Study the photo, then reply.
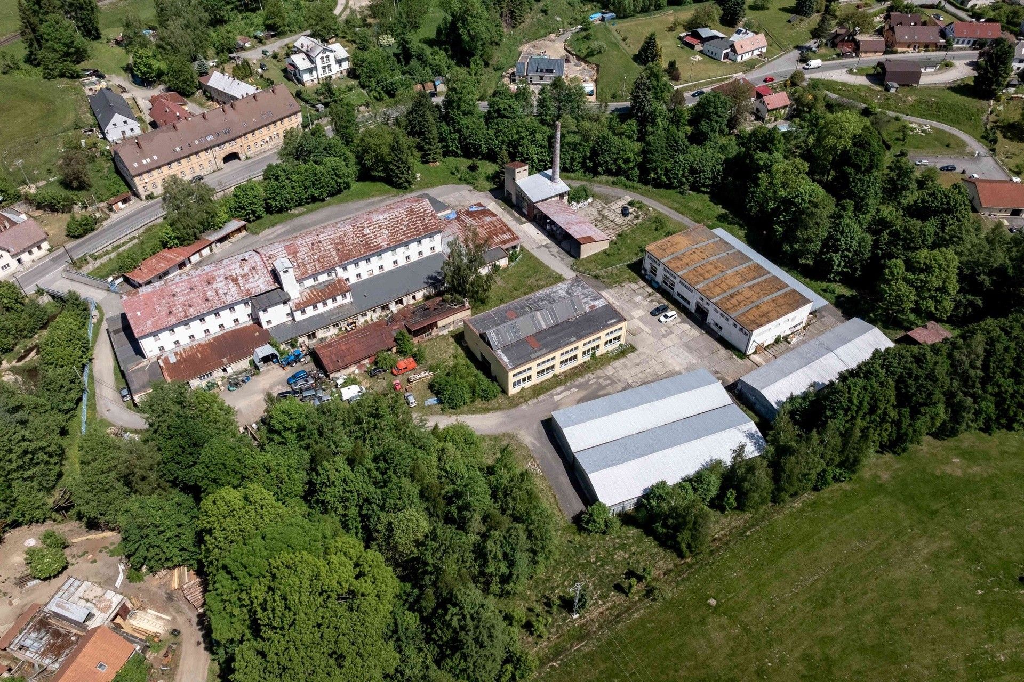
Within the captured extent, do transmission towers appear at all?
Yes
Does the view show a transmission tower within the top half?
No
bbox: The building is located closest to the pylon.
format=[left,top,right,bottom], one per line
[550,367,771,514]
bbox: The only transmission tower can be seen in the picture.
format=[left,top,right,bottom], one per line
[566,579,590,624]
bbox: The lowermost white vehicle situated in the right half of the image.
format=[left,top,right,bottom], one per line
[657,310,679,325]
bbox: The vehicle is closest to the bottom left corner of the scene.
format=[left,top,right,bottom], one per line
[116,387,134,405]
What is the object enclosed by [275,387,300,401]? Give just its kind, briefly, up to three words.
car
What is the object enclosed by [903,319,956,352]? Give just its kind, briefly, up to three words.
shed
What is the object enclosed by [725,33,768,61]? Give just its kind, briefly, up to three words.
house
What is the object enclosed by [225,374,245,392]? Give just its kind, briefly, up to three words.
work vehicle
